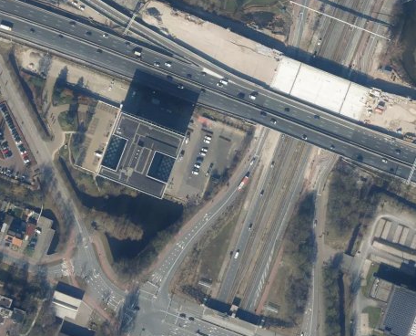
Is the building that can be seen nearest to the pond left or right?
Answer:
left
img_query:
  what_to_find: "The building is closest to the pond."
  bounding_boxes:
[97,113,185,202]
